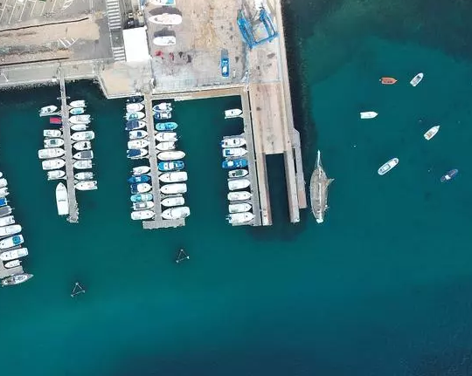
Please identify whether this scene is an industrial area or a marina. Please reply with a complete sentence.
What you see here is a marina.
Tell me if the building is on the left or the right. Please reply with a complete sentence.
It is on the left.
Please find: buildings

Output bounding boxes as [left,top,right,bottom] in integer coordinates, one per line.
[123,28,148,65]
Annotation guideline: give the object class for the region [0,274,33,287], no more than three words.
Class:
boat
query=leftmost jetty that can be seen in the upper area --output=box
[40,76,79,221]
